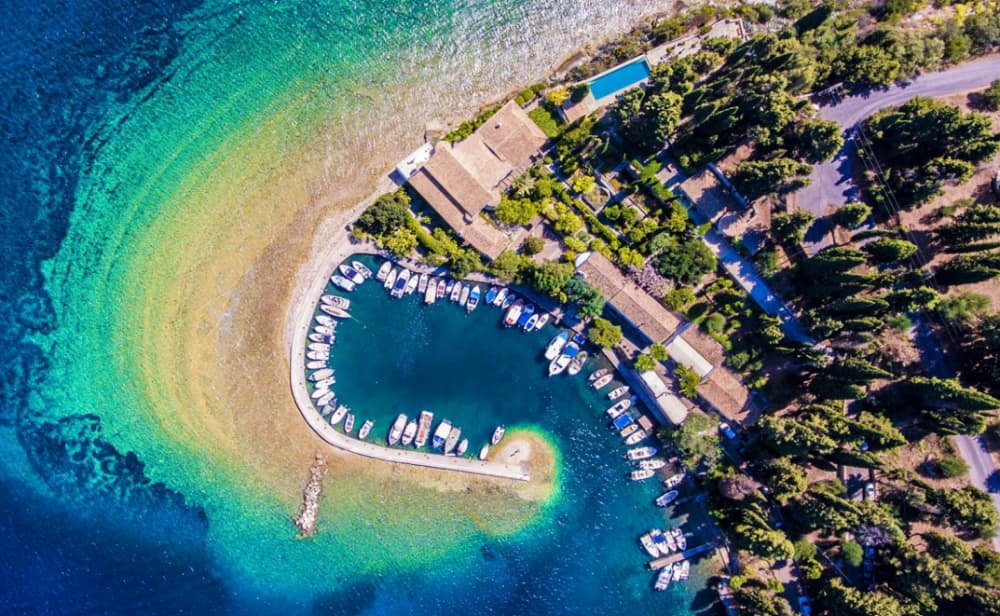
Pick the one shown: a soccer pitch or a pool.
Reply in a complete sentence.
The one in the frame is a pool.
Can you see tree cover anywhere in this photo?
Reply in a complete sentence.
Yes, there is tree cover in the image.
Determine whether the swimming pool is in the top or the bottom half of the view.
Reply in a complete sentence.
The top half of the photo is where the swimming pool is.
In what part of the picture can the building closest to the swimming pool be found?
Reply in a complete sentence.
The building closest to the swimming pool sits in the top section of the image.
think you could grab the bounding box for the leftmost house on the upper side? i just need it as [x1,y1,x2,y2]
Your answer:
[409,100,548,260]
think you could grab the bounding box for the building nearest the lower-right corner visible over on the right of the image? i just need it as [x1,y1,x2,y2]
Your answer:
[695,369,752,421]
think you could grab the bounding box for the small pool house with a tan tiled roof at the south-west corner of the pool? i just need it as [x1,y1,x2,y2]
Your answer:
[564,98,592,125]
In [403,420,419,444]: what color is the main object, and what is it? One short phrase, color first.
white boat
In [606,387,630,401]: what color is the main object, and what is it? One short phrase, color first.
white boat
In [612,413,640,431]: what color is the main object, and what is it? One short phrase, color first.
blue boat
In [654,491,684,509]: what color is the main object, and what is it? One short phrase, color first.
blue boat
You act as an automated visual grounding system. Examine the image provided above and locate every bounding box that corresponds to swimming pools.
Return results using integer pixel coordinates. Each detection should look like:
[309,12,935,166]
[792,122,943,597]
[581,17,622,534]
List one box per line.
[587,56,653,103]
